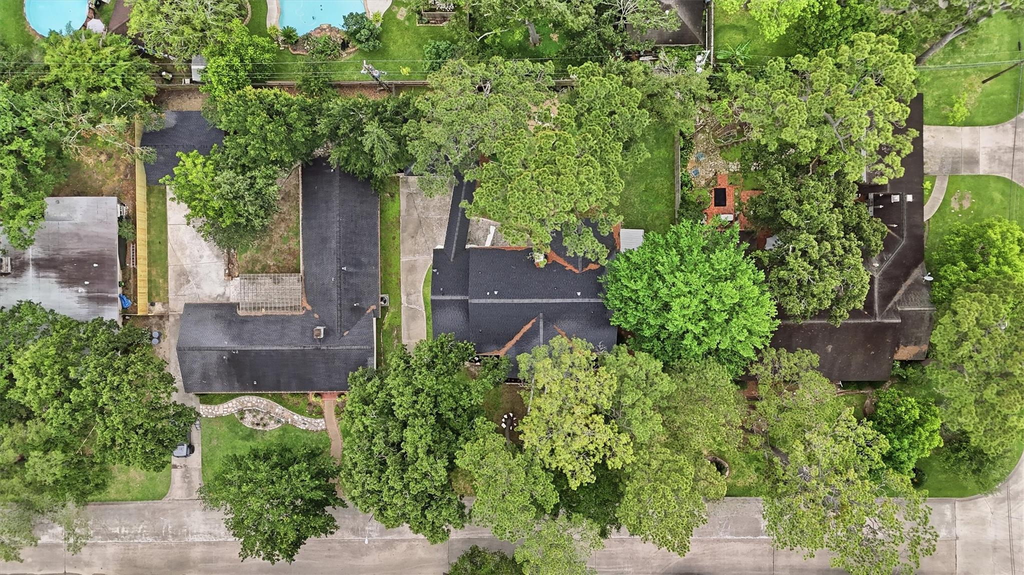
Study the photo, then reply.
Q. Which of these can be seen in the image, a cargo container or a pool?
pool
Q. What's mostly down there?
trees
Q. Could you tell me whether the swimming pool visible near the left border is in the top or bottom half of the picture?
top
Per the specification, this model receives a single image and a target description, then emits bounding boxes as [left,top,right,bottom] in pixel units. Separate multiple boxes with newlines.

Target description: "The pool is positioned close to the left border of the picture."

[24,0,88,35]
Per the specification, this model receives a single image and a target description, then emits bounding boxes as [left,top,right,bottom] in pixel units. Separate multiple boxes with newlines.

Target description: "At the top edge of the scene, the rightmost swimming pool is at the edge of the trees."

[274,0,371,37]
